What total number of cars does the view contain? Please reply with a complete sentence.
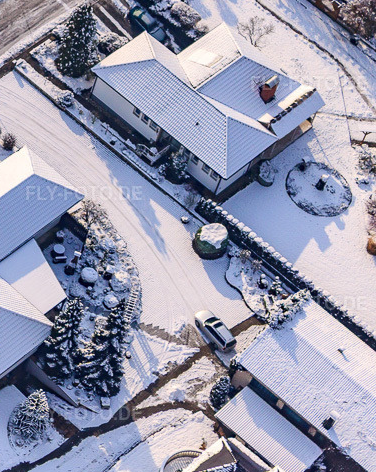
I count 2 cars.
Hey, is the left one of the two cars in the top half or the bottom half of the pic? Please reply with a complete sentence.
The left one of the two cars sits in the top half of the picture.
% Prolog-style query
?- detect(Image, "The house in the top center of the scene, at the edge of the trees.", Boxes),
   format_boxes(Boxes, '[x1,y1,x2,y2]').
[91,21,325,201]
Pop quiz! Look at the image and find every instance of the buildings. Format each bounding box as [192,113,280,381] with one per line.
[156,437,294,472]
[91,21,325,201]
[238,299,376,472]
[0,146,83,377]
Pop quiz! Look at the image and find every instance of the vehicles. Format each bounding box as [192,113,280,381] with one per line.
[132,5,169,41]
[195,304,238,350]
